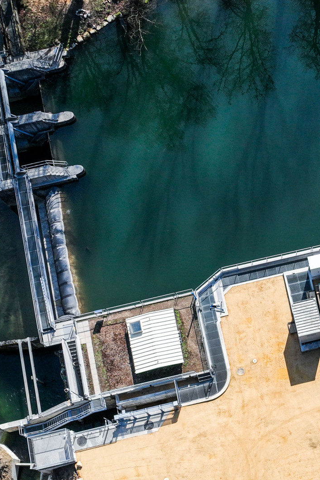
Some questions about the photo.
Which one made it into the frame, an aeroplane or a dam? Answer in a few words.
dam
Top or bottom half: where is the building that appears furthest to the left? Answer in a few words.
bottom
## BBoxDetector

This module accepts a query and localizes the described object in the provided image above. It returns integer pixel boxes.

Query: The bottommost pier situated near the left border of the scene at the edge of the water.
[15,163,90,187]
